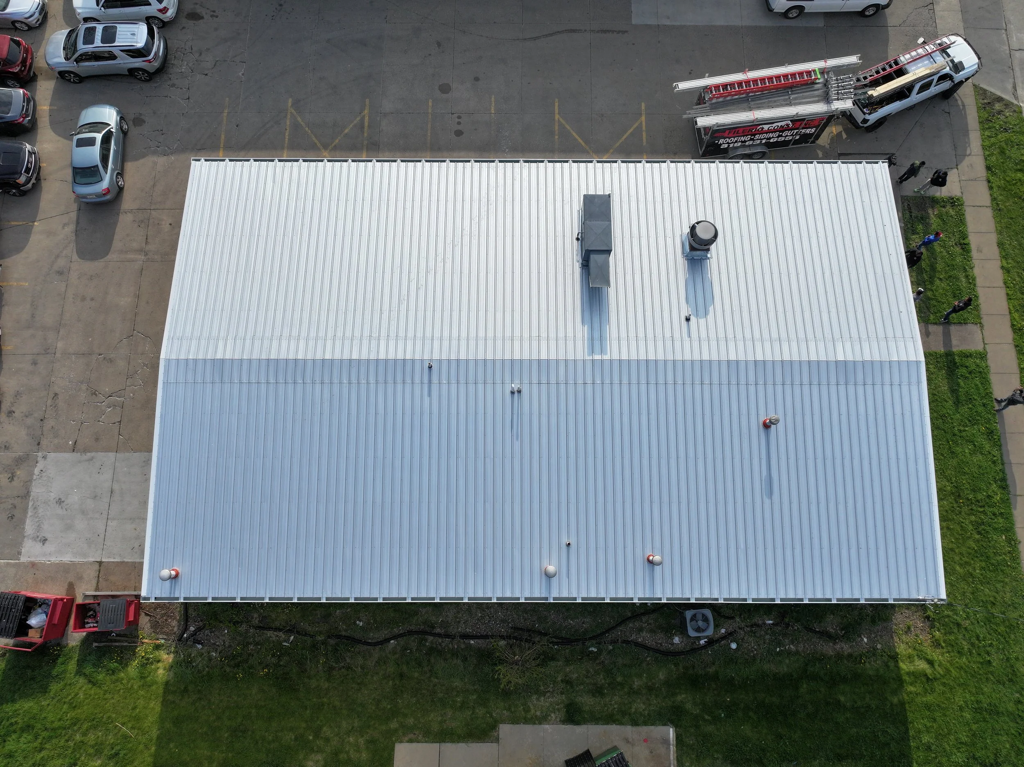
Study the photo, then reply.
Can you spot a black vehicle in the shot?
Yes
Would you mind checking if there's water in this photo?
No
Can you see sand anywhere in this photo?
No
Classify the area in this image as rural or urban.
urban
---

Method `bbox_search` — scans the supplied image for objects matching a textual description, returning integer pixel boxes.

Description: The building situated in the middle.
[139,157,948,603]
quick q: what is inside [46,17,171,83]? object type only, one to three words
car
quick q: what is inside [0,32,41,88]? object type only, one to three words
car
